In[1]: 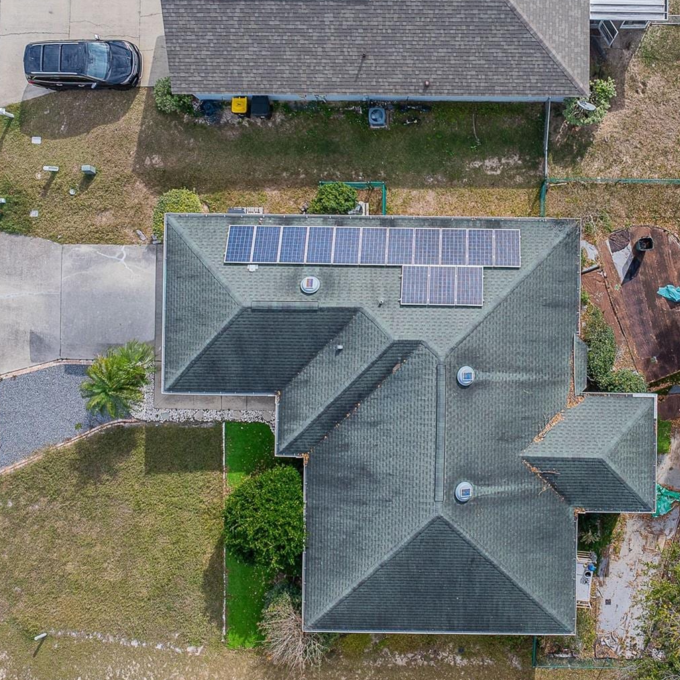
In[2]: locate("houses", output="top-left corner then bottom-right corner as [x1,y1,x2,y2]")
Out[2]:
[161,216,658,633]
[150,0,668,101]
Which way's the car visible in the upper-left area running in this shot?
from left to right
